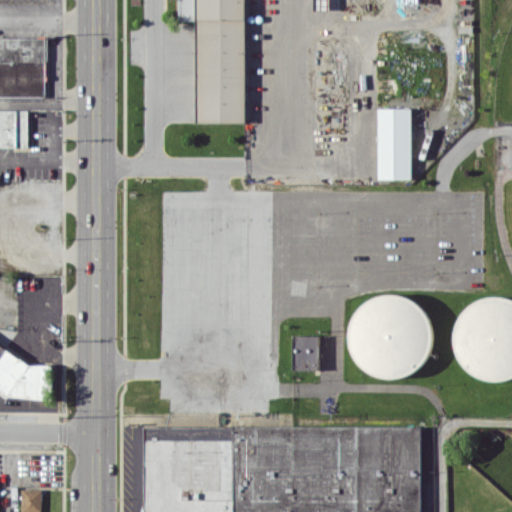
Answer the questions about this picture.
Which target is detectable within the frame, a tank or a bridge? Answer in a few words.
tank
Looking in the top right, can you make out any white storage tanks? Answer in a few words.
No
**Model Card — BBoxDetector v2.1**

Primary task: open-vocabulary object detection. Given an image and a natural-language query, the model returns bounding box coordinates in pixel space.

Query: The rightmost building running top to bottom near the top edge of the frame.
[196,0,246,123]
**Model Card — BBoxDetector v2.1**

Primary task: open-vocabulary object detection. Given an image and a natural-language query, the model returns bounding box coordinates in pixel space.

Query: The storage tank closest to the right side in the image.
[454,297,512,382]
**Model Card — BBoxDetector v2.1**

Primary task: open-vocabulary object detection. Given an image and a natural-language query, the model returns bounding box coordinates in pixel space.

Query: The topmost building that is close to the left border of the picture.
[0,38,48,98]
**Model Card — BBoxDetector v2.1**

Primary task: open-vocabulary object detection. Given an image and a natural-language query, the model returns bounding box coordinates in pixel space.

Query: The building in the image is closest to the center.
[294,337,320,372]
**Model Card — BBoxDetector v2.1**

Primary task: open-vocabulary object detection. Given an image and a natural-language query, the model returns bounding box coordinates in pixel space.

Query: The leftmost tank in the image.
[348,295,434,380]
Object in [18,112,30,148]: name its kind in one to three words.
building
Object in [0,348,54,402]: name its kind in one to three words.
building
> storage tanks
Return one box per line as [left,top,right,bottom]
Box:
[348,295,434,380]
[454,297,512,382]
